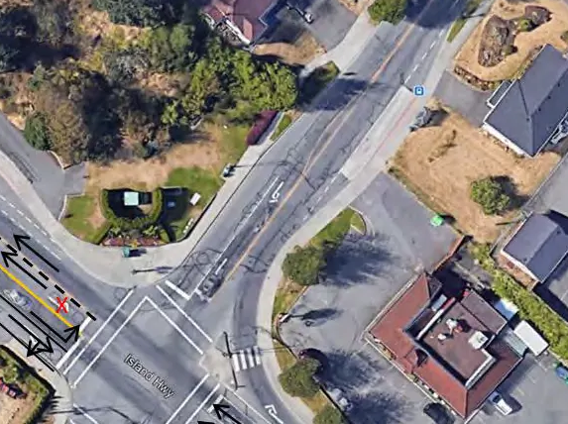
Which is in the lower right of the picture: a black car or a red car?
black car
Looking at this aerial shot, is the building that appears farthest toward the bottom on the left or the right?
right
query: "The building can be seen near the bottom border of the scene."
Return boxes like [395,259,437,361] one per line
[369,273,527,418]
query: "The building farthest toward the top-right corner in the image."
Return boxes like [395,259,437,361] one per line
[476,44,568,160]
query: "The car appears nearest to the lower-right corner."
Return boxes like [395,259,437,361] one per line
[485,390,517,419]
